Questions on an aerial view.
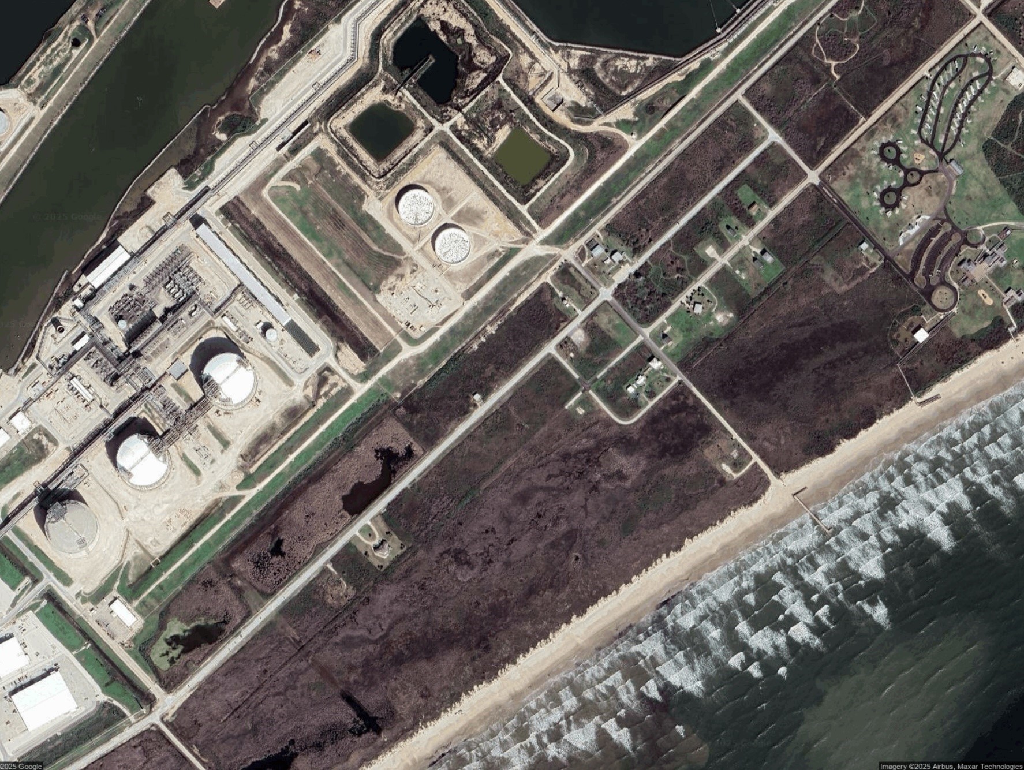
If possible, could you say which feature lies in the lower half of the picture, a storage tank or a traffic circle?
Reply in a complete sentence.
What appears in the lower half of the picture is a storage tank.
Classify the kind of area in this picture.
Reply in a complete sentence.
The area seen from above is a port.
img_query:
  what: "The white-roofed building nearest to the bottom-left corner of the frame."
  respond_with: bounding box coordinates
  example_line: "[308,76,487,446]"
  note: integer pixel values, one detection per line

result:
[11,671,78,733]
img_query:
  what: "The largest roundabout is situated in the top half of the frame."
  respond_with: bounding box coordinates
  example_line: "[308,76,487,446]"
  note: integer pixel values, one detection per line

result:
[928,283,958,312]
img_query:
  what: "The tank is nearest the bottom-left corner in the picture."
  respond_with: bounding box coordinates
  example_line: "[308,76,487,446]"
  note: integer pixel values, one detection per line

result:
[44,501,101,559]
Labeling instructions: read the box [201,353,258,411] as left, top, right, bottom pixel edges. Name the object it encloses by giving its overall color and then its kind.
white storage tank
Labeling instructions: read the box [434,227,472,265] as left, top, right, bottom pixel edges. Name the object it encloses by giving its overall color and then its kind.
white storage tank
